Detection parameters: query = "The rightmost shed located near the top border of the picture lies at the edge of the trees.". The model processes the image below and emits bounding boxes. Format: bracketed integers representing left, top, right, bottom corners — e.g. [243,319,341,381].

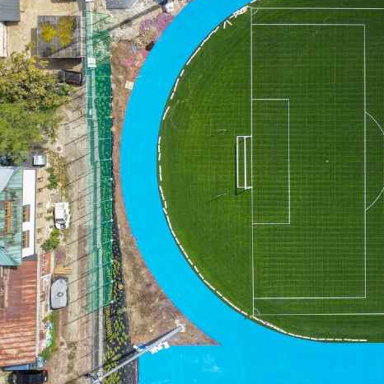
[38,8,87,56]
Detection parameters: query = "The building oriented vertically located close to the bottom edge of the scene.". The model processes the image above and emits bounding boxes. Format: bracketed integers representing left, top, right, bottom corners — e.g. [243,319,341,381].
[0,263,45,366]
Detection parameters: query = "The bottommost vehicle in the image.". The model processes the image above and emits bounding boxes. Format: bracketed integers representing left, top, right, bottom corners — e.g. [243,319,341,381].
[11,370,45,384]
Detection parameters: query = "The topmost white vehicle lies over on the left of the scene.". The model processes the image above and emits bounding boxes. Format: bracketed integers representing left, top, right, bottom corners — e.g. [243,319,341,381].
[54,200,75,229]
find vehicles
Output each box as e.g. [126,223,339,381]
[58,69,89,84]
[54,200,75,229]
[11,370,45,384]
